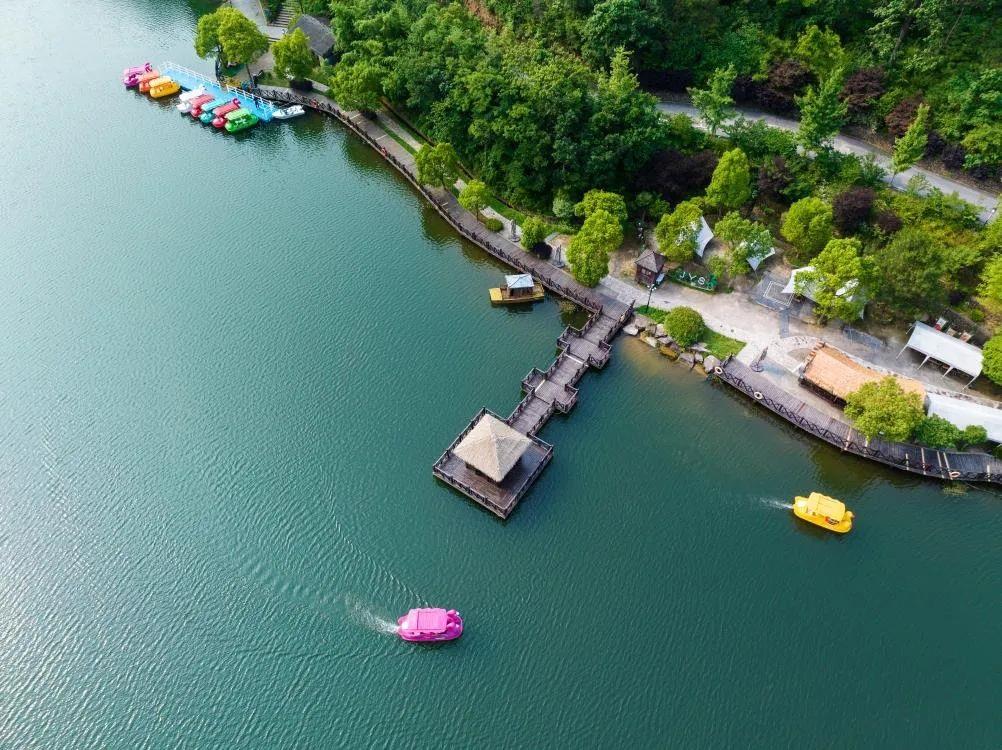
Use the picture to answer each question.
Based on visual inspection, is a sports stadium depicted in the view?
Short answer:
No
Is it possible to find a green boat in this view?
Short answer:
Yes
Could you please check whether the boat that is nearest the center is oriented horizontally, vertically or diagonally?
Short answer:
horizontally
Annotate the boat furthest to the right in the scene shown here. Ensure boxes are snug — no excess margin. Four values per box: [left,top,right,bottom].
[793,495,860,534]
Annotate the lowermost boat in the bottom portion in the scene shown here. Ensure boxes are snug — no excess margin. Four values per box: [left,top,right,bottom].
[396,608,465,645]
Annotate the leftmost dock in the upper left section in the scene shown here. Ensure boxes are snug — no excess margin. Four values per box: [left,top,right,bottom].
[159,59,275,123]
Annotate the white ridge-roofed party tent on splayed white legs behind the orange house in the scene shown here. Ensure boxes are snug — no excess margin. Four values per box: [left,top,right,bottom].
[897,320,982,392]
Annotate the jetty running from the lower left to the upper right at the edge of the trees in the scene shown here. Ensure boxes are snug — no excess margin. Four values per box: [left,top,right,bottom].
[434,299,635,520]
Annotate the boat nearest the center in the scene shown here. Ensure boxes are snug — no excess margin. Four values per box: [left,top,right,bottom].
[488,276,546,305]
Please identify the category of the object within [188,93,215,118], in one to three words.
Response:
boat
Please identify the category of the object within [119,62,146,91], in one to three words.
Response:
boat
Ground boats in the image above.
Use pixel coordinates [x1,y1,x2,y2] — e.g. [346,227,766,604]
[793,495,860,534]
[188,93,215,118]
[268,102,307,121]
[488,276,546,305]
[396,608,465,645]
[175,82,202,113]
[119,62,146,91]
[200,98,226,124]
[226,107,258,133]
[134,70,163,95]
[211,96,240,127]
[148,76,182,101]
